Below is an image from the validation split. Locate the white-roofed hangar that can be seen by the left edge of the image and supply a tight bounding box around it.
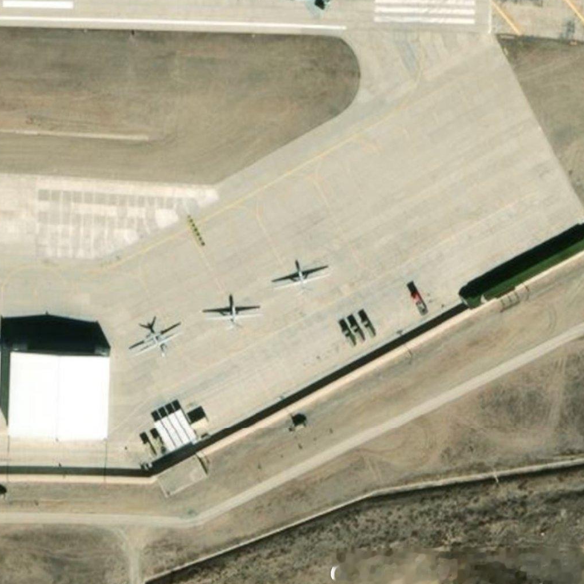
[8,344,110,442]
